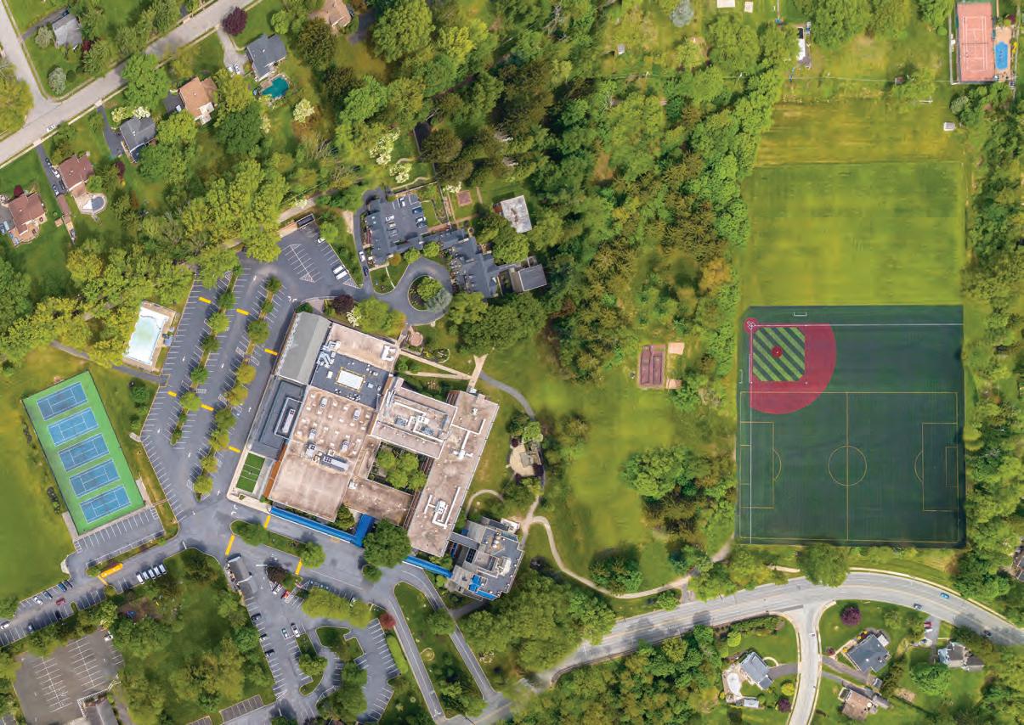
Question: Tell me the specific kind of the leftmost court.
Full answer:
I'd say the leftmost court is a tennis court.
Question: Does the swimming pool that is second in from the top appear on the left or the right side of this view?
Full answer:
The swimming pool that is second in from the top sits on the left side.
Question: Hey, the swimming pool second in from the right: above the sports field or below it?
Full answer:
It's below the sports field that the swimming pool second in from the right shows up.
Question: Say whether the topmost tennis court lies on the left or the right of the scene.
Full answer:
The topmost tennis court appears in the right half of the scene.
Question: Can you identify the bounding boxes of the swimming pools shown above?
[260,73,292,100]
[71,192,107,214]
[723,664,753,704]
[995,26,1011,81]
[125,304,176,373]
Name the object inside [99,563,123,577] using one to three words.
vehicle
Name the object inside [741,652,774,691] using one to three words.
house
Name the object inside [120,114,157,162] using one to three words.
house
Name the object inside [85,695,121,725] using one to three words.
building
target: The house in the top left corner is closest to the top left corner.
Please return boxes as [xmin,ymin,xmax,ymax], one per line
[52,16,83,47]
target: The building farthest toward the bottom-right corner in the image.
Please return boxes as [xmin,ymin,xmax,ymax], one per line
[938,641,984,671]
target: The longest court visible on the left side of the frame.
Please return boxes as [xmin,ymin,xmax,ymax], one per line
[23,372,143,535]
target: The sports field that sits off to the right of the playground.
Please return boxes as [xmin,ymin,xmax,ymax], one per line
[736,305,965,548]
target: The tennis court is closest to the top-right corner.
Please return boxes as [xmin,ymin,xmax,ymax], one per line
[957,0,996,81]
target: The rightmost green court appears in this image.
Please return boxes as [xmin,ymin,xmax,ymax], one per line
[236,451,265,493]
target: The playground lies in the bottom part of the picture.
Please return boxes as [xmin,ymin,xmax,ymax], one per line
[510,439,543,479]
